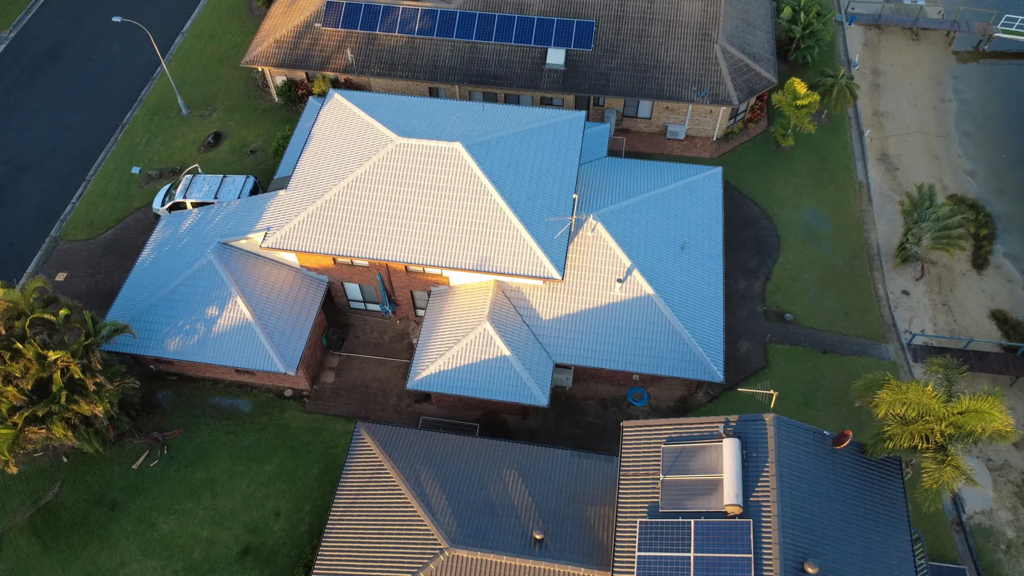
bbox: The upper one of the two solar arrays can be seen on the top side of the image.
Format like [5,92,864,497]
[320,1,597,50]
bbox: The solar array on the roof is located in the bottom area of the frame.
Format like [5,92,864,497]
[634,519,754,576]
